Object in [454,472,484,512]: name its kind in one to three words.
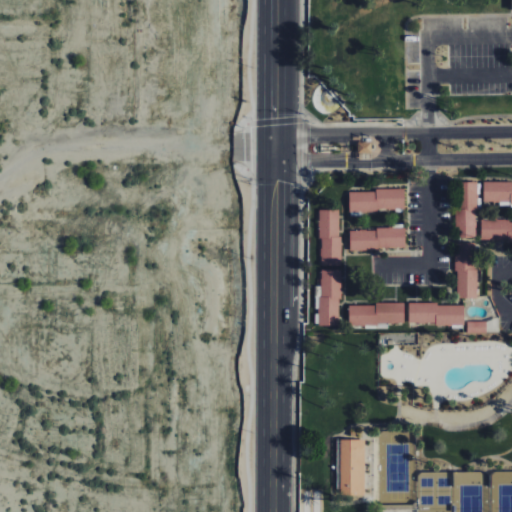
tennis court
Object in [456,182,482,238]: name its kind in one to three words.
building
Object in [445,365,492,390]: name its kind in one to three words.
swimming pool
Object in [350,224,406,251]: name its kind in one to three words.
building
